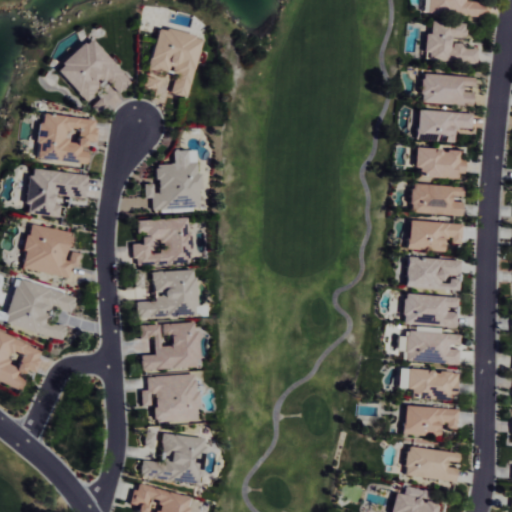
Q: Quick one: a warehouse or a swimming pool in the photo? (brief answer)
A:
swimming pool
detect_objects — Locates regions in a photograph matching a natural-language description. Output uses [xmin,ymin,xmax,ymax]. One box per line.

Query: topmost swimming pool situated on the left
[168,13,192,27]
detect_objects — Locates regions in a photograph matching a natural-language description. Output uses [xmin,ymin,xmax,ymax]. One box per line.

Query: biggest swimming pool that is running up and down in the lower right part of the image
[384,445,396,473]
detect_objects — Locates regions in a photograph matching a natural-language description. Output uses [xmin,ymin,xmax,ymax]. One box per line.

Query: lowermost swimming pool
[366,493,388,506]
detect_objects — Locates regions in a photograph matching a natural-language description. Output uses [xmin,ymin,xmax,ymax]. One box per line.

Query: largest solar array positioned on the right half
[414,348,446,364]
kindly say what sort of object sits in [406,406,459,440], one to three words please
house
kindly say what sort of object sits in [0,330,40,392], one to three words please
house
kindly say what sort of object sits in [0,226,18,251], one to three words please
swimming pool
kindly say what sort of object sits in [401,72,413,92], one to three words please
swimming pool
